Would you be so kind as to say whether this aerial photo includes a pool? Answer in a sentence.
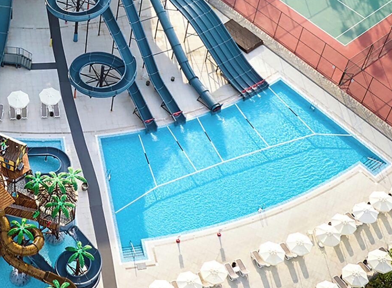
Yes, you can see a pool in this photo.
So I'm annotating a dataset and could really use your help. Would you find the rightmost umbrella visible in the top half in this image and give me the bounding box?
[40,90,61,114]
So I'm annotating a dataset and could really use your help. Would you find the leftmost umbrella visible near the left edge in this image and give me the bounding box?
[7,94,30,116]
